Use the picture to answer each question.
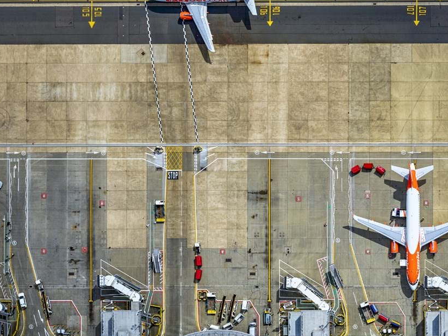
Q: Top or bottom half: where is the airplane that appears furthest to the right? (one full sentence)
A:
You can find the airplane that appears furthest to the right in the bottom half.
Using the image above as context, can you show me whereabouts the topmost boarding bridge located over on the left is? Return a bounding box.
[98,275,146,301]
